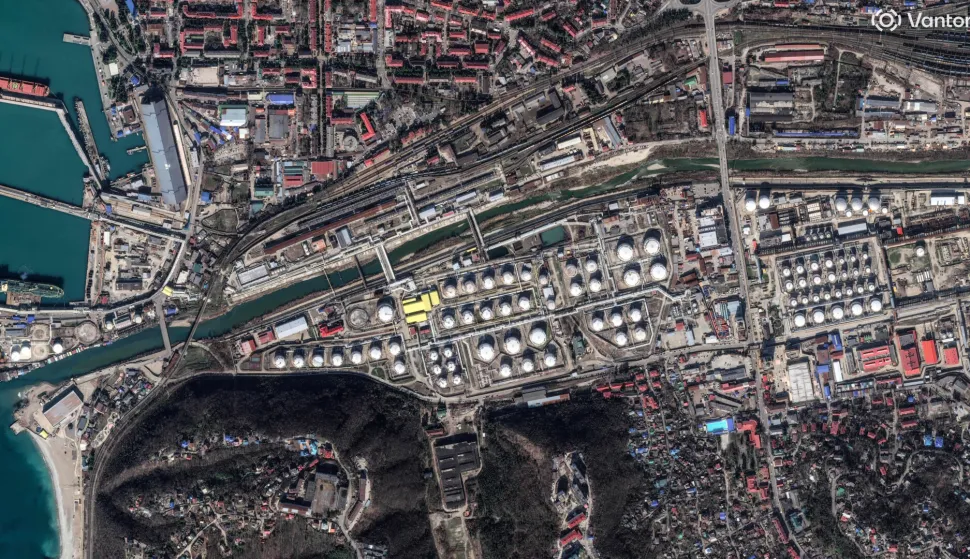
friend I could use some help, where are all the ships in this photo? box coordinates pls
[0,281,64,298]
[0,77,49,95]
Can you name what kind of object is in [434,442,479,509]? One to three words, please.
building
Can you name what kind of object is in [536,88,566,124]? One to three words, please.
building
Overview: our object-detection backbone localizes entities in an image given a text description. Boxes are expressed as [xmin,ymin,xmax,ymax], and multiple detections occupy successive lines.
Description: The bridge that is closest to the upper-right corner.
[704,0,753,340]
